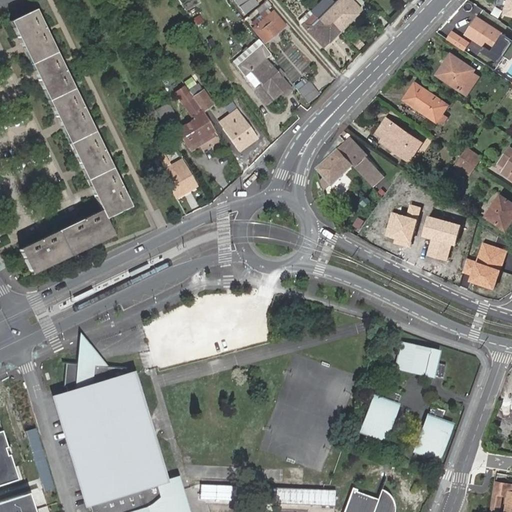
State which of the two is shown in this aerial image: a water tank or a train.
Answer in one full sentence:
Visible in the photo is a train.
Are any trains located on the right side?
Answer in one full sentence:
No, looking on the right side, there is no train.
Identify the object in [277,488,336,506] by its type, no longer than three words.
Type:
building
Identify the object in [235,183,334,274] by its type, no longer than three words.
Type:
roundabout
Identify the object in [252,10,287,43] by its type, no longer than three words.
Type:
house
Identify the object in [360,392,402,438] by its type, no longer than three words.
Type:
building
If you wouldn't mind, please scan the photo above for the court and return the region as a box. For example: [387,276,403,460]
[258,354,353,472]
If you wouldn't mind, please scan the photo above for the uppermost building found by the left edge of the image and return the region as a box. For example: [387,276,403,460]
[10,7,132,218]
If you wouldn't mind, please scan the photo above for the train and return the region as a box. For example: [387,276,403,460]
[72,260,172,312]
